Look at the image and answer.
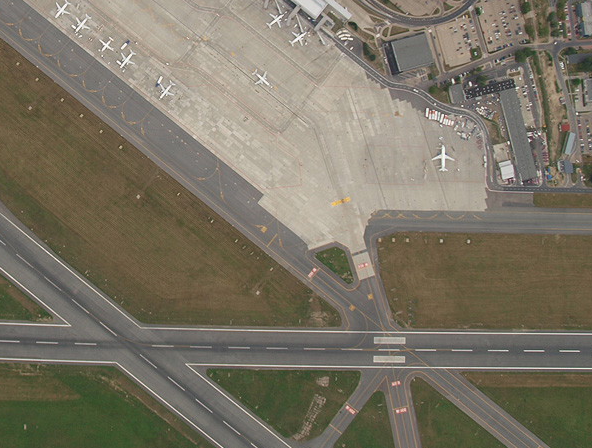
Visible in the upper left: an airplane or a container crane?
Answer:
airplane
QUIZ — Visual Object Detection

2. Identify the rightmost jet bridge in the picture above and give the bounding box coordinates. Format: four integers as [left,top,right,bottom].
[314,18,326,45]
